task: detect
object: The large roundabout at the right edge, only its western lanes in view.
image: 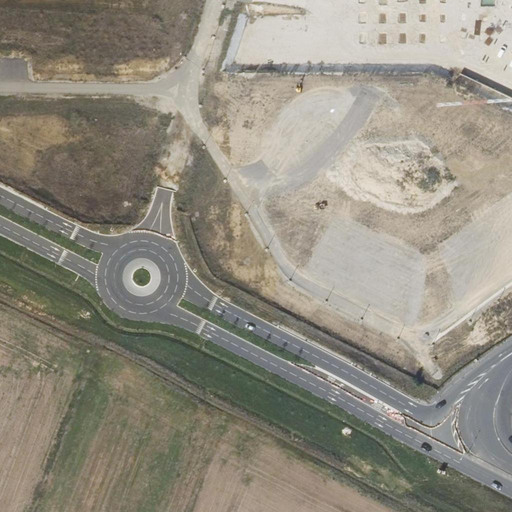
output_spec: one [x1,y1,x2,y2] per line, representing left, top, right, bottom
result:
[470,340,512,484]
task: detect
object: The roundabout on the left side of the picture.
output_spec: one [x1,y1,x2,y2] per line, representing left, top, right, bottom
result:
[96,232,188,322]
